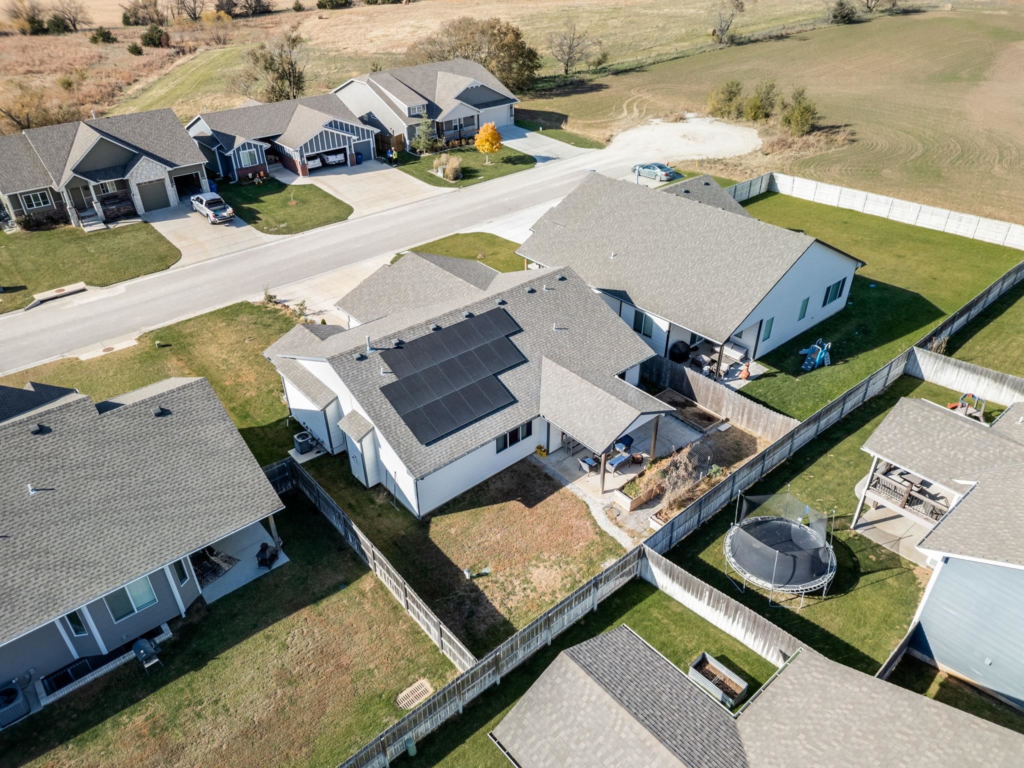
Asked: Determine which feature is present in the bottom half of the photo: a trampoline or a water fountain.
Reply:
trampoline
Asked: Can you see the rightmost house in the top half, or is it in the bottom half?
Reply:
bottom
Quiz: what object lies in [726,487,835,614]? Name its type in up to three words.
trampoline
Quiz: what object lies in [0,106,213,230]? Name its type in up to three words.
house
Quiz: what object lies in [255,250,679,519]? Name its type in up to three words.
house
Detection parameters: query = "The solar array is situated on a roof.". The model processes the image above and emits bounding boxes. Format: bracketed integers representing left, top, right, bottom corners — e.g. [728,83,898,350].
[380,303,527,444]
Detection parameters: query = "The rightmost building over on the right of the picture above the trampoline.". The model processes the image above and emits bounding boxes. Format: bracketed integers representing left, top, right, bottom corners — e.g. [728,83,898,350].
[509,164,867,378]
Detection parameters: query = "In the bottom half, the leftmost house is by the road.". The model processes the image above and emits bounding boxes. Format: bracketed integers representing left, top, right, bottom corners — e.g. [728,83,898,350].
[0,374,288,697]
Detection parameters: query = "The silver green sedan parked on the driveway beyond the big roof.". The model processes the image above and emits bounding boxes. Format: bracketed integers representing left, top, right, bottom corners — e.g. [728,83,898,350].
[634,163,674,180]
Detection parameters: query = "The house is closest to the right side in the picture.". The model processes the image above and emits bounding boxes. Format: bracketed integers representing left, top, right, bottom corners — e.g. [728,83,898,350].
[847,396,1024,705]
